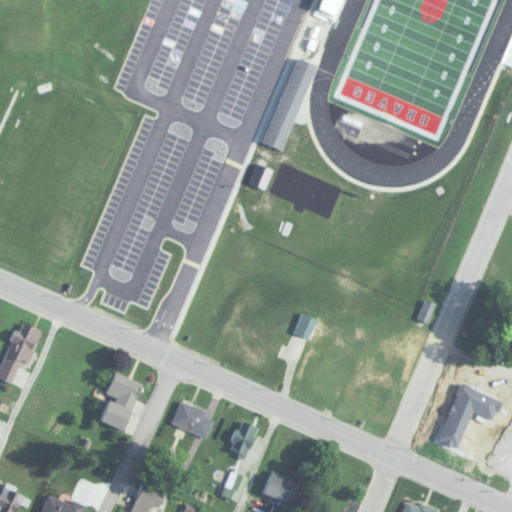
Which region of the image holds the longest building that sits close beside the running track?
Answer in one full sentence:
The longest building that sits close beside the running track sits in the top section of the image.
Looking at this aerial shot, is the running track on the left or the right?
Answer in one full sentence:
It is on the right.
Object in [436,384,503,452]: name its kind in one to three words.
house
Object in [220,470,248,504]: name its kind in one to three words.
building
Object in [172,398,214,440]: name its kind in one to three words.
house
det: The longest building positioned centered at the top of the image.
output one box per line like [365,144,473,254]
[253,56,318,152]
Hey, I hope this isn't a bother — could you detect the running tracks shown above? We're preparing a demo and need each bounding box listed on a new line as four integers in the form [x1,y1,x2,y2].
[304,0,512,193]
